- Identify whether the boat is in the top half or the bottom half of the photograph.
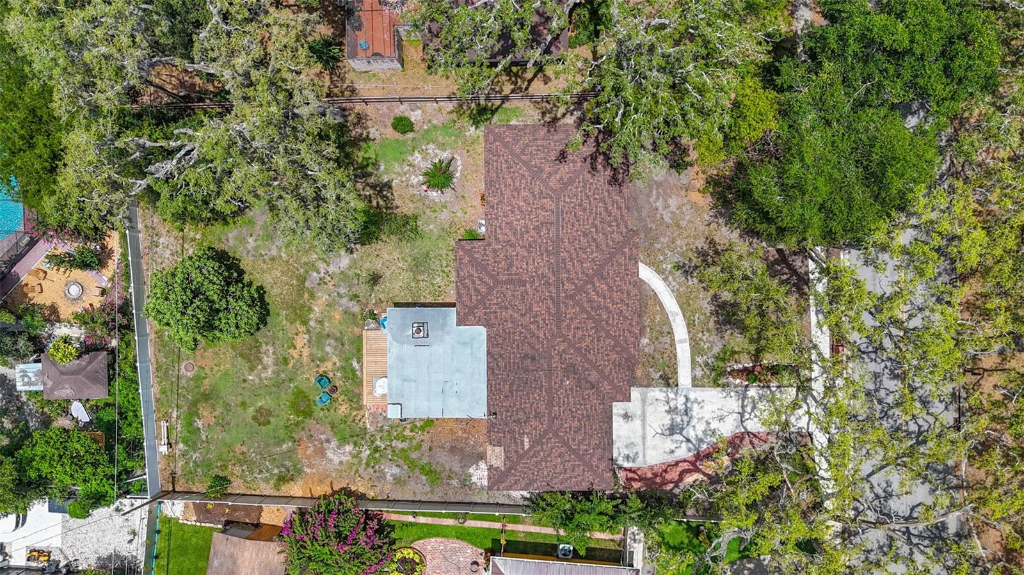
bottom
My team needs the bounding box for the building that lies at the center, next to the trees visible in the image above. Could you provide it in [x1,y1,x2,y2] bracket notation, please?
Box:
[387,124,640,492]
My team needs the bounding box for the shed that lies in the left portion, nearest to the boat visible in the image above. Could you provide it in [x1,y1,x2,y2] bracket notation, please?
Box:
[42,352,120,399]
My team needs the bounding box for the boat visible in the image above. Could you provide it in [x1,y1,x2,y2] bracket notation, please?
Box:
[73,399,94,426]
